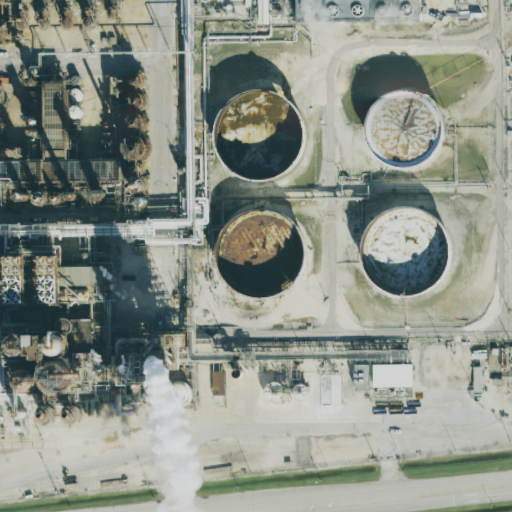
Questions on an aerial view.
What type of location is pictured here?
industrial area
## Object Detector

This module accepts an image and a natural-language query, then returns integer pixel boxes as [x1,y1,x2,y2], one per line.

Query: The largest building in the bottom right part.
[372,364,414,388]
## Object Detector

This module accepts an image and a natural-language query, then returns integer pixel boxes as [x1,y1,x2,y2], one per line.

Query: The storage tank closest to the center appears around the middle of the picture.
[216,208,313,303]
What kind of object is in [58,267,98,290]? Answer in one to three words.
building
